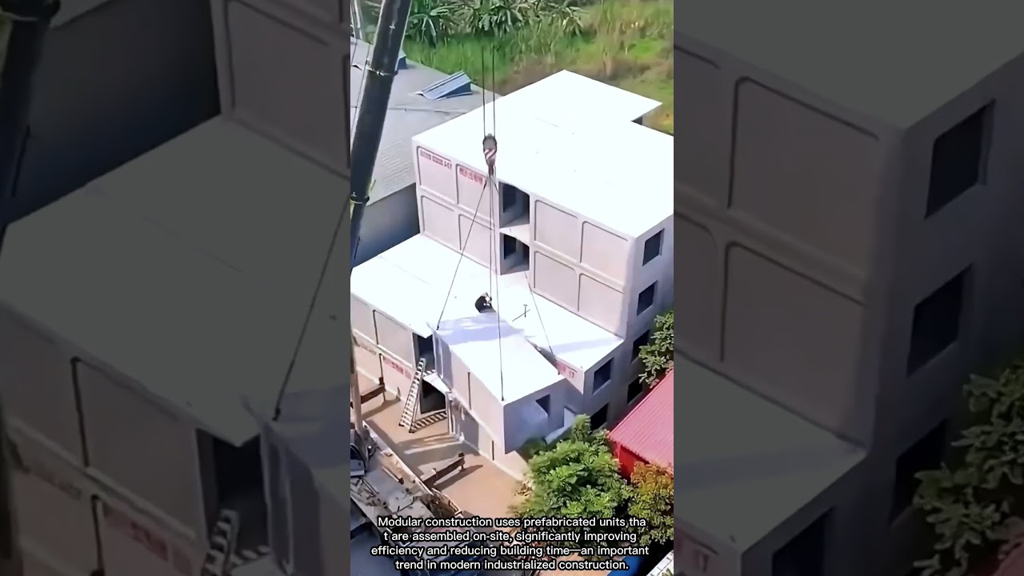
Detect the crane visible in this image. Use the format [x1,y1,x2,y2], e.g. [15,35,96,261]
[260,0,476,576]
